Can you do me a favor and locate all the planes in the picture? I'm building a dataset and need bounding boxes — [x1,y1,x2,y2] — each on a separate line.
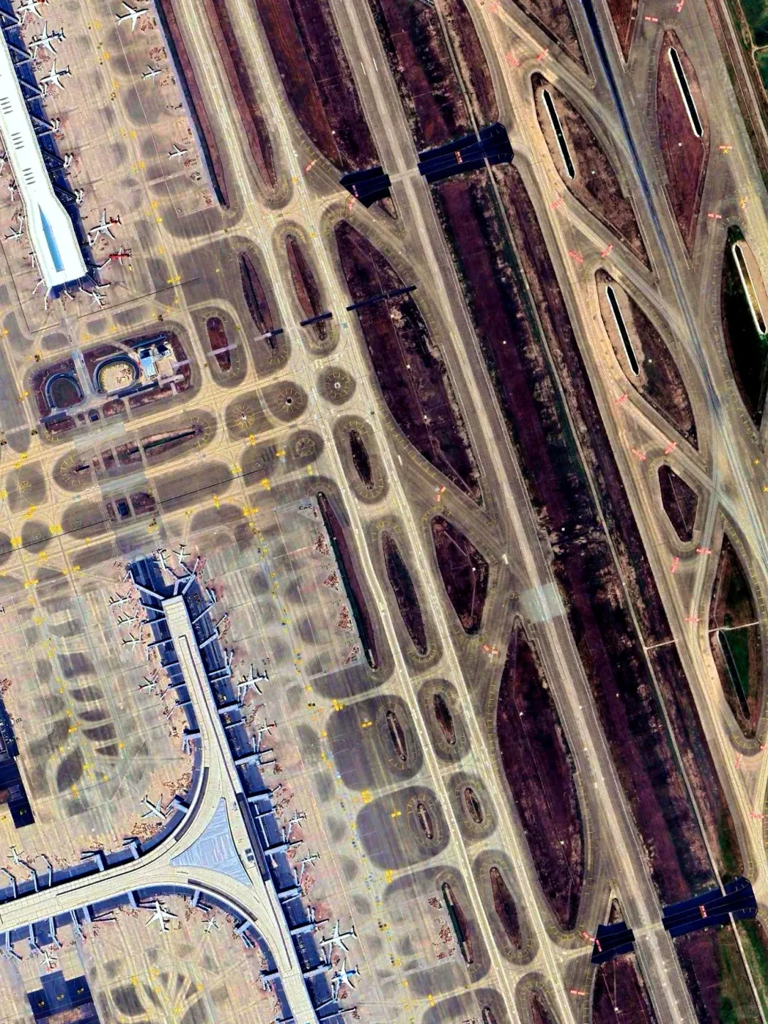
[28,23,65,55]
[117,614,135,631]
[259,719,276,736]
[17,0,48,18]
[167,146,187,163]
[332,962,361,992]
[201,917,217,934]
[109,595,129,612]
[172,546,190,563]
[5,228,23,245]
[90,291,106,309]
[139,795,165,819]
[321,925,356,956]
[138,679,157,696]
[141,67,161,84]
[289,811,307,828]
[90,211,121,241]
[5,847,22,863]
[146,901,177,935]
[40,60,72,90]
[152,550,170,570]
[237,666,269,697]
[39,952,56,971]
[301,851,320,867]
[114,2,148,31]
[109,246,130,265]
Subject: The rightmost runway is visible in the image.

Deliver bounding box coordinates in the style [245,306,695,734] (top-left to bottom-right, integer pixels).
[567,0,768,565]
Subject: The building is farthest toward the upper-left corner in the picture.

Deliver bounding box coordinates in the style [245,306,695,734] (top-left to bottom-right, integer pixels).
[0,30,87,287]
